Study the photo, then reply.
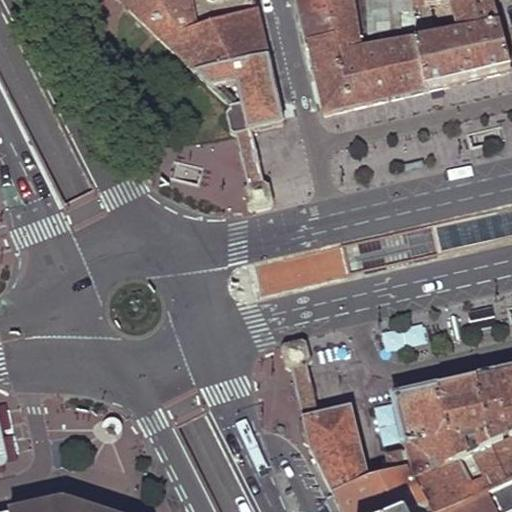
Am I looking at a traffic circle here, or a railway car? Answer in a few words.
traffic circle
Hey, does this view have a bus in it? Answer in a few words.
Yes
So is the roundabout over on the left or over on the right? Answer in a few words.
left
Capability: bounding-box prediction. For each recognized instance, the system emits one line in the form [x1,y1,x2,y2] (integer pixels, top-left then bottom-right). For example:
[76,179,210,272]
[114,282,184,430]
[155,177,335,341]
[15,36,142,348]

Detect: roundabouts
[107,280,164,337]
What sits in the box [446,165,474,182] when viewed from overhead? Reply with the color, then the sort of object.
white vehicle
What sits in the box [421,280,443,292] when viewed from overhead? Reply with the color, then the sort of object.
white vehicle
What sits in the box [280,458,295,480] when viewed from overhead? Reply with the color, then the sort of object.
white car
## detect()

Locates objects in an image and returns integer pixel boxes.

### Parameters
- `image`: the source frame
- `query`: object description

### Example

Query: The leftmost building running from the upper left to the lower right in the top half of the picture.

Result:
[122,0,228,66]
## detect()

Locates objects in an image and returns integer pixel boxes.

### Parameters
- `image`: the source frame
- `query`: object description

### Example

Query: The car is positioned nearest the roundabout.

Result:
[72,277,93,292]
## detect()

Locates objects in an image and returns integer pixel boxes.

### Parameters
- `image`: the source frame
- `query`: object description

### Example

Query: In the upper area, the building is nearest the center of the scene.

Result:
[247,180,273,213]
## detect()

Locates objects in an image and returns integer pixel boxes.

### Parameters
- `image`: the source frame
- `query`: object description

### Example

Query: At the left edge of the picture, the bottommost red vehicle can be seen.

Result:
[16,176,32,199]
